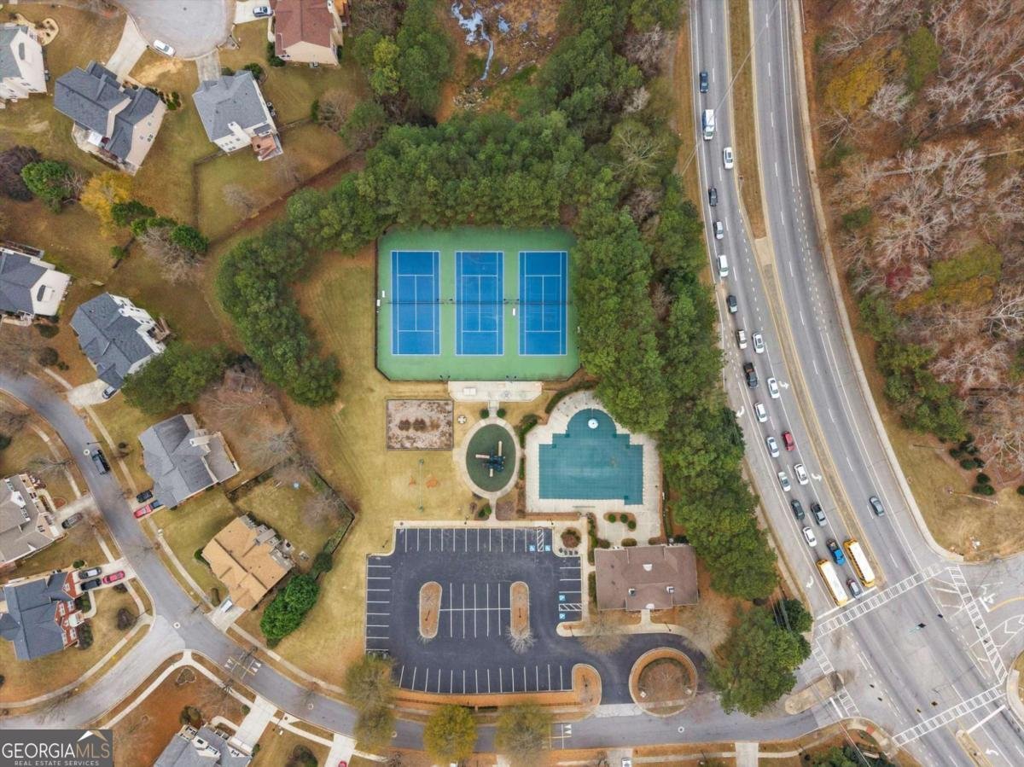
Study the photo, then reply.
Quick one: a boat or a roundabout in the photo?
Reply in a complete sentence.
Looking from above, you can make out a roundabout.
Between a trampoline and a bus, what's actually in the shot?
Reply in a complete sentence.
It is a bus that can be seen here.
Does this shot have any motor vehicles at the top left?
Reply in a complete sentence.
Yes, at the top left there is a motor vehicle.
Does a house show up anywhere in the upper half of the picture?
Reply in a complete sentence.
Yes, in the upper half of the picture there is a house.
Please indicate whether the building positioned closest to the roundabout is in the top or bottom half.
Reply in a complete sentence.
The bottom half of the photo is where the building positioned closest to the roundabout is.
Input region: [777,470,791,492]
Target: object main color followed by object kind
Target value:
white car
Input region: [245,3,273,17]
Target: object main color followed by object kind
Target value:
white vehicle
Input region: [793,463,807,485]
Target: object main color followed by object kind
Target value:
white car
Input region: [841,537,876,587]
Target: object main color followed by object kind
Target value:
white bus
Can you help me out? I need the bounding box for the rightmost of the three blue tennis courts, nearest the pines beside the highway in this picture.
[515,251,572,355]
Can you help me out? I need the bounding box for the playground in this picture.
[453,416,526,520]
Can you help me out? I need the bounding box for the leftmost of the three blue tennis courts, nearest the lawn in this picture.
[387,251,443,355]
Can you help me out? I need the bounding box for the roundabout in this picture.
[628,647,698,717]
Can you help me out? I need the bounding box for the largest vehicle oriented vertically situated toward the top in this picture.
[702,107,716,142]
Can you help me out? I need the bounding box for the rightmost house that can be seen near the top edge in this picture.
[265,0,351,63]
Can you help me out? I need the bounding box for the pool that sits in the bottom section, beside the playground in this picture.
[526,390,661,547]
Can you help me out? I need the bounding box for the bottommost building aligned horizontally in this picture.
[155,720,259,767]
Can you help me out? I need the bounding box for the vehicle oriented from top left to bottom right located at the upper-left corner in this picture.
[153,38,176,57]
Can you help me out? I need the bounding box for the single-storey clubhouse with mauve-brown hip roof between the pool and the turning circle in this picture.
[594,544,697,611]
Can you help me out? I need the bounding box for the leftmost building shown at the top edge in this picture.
[0,24,45,95]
